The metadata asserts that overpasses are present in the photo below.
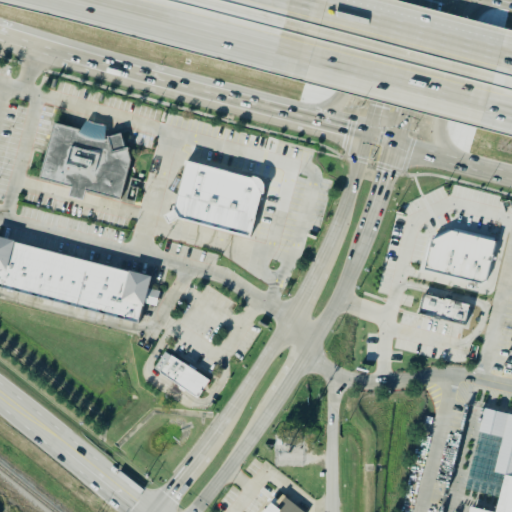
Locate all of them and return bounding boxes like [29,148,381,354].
[0,0,512,135]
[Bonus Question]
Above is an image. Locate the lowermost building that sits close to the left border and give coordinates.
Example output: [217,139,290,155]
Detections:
[0,238,151,321]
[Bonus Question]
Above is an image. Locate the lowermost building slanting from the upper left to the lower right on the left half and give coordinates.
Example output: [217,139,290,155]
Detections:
[155,352,210,398]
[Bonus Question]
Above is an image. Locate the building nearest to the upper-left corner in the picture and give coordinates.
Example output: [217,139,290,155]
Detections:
[40,120,131,198]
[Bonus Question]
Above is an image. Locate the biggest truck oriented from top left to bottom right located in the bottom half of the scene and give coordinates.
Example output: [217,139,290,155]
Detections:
[112,466,144,494]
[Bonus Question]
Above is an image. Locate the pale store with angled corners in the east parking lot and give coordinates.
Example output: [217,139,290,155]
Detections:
[425,230,497,282]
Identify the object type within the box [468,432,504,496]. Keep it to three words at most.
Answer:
house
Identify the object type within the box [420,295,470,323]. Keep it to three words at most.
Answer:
building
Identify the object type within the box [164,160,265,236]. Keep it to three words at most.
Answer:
building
